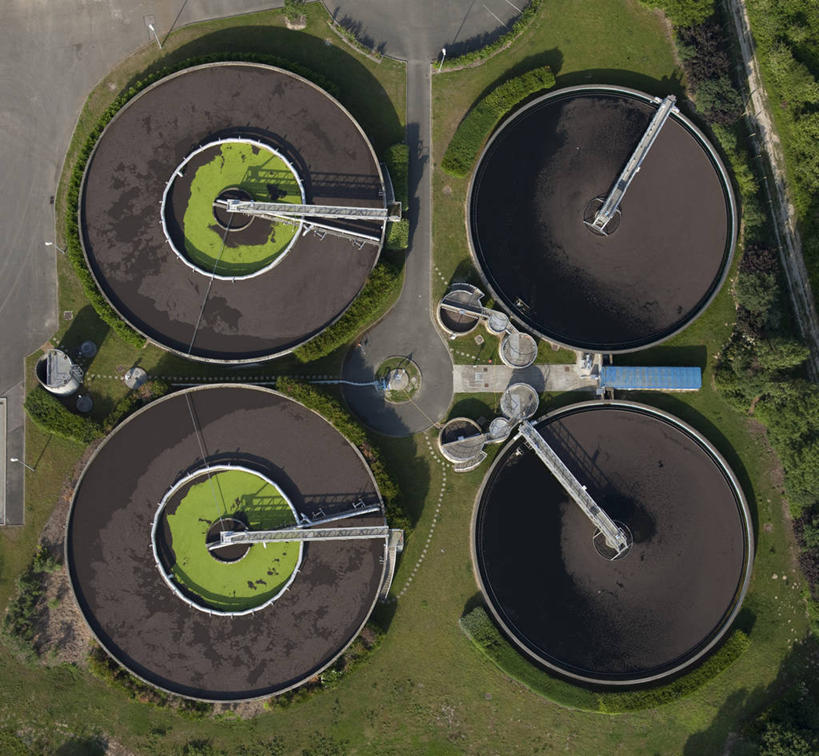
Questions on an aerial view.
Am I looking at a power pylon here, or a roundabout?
roundabout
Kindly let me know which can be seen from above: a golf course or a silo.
silo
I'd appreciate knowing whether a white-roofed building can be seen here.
No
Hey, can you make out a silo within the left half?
Yes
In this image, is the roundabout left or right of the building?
left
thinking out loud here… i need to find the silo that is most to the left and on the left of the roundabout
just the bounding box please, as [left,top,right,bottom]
[35,349,98,390]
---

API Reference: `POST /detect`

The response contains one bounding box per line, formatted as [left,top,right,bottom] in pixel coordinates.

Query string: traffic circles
[341,252,454,437]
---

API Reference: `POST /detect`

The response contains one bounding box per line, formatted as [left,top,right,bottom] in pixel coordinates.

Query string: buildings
[600,366,701,394]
